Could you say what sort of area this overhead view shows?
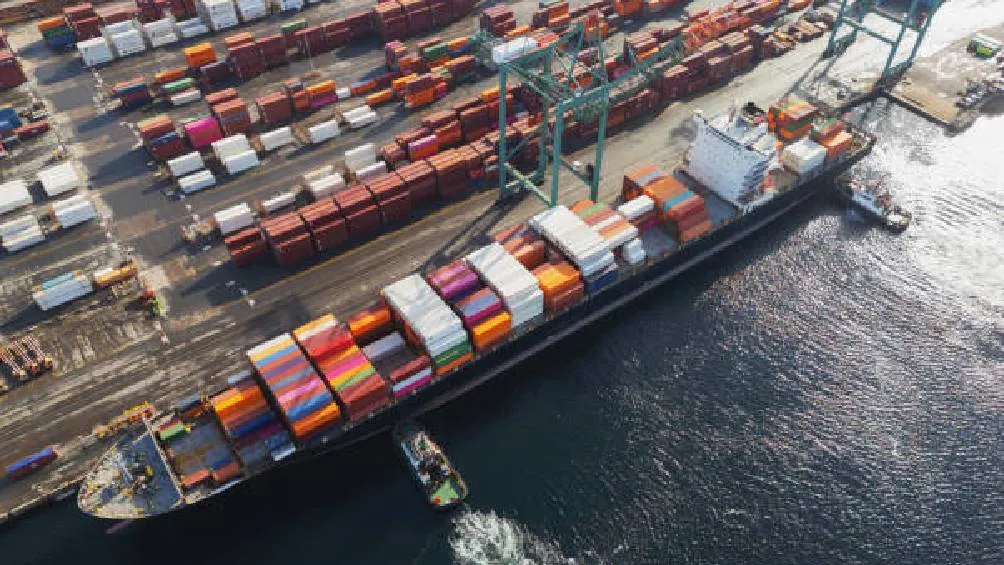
port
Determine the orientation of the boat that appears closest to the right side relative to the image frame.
at an angle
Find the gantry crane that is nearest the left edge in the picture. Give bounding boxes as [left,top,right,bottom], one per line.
[485,15,700,208]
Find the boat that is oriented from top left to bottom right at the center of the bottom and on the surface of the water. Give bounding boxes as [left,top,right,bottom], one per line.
[391,422,466,507]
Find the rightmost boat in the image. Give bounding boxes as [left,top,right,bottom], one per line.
[842,173,906,234]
